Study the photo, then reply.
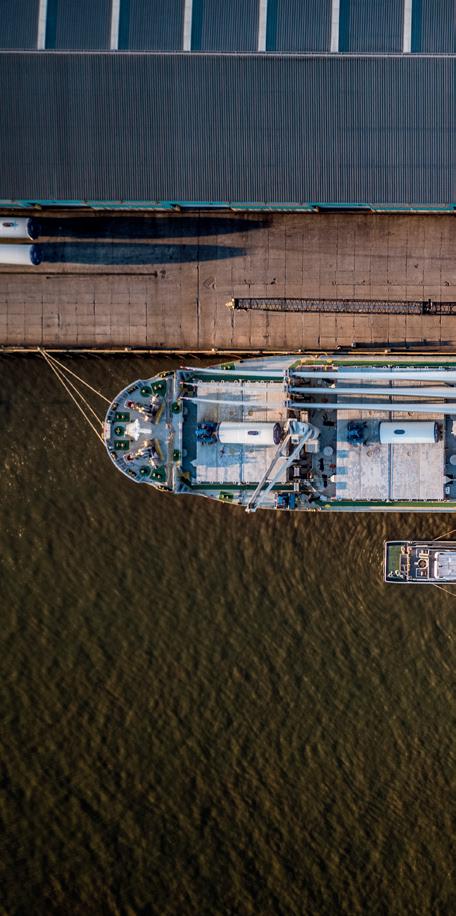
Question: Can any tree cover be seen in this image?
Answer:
No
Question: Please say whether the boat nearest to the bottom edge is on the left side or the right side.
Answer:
right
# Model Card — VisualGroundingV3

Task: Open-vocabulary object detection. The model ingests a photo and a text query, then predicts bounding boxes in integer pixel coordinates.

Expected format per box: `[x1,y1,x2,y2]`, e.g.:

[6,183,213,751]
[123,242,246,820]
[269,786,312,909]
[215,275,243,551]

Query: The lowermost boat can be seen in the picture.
[382,540,456,584]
